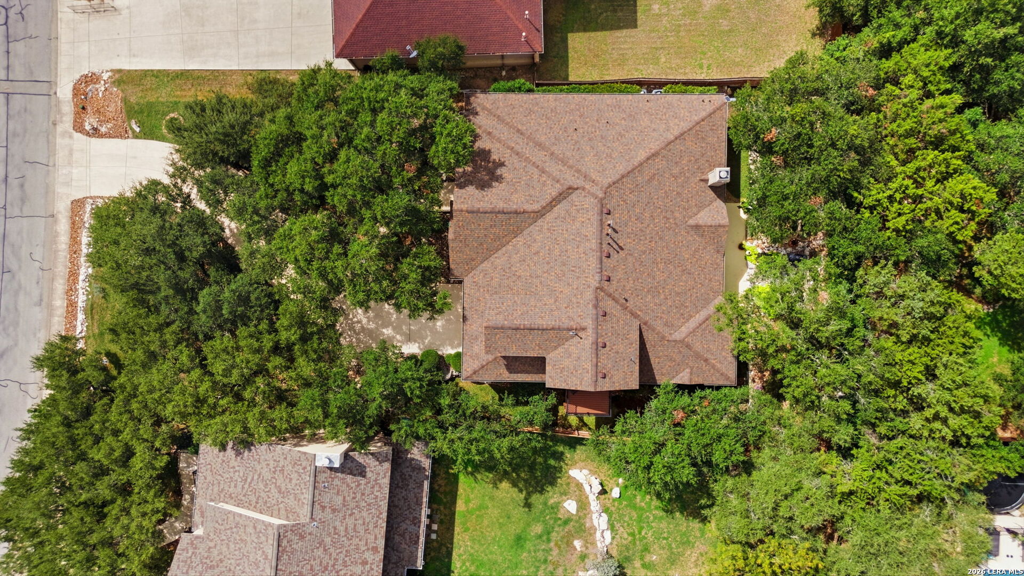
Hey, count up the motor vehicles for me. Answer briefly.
none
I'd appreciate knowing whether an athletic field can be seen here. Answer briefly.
No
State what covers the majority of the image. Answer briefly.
trees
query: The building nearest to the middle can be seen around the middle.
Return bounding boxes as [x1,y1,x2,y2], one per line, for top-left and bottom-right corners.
[448,92,738,391]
